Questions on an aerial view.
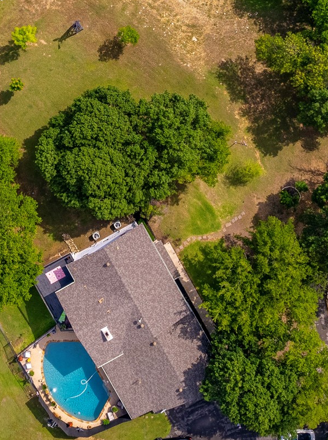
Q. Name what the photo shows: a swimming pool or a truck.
swimming pool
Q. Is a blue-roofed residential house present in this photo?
No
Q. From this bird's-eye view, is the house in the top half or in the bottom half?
bottom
